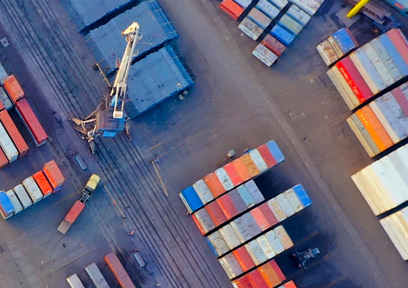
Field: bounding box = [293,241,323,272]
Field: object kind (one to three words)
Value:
work vehicle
